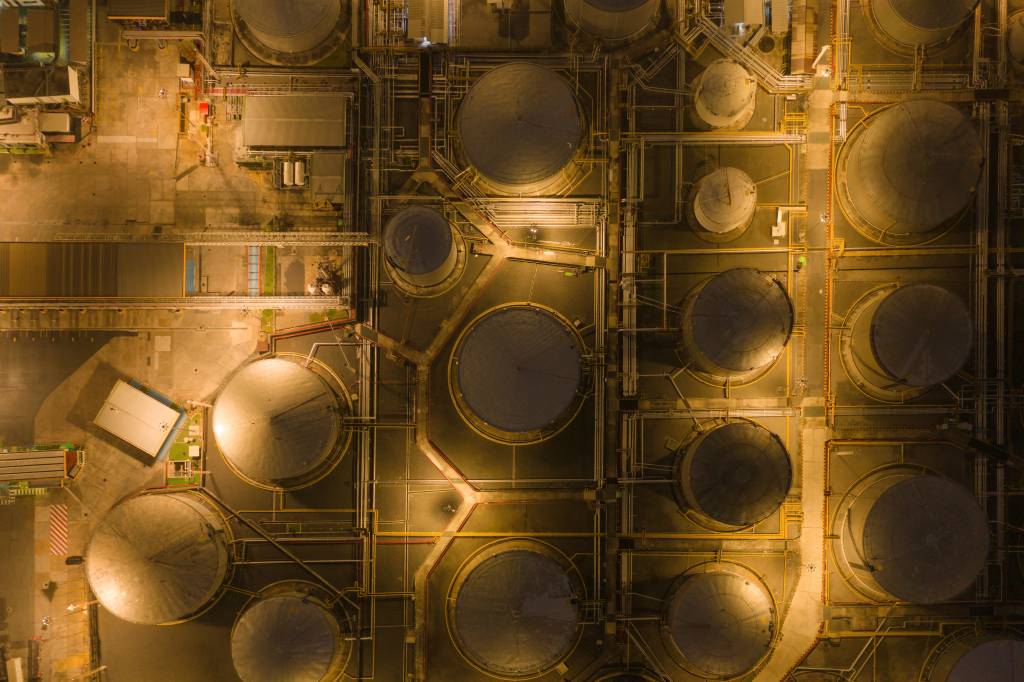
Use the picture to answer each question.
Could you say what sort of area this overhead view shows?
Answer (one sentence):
This looks like an industrial area.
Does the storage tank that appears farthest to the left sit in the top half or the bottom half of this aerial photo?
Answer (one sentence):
The bottom half of the photo is where the storage tank that appears farthest to the left is.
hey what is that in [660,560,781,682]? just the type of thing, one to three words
storage tank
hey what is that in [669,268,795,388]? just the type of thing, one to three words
storage tank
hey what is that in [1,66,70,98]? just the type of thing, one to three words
building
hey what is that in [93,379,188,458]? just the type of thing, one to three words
building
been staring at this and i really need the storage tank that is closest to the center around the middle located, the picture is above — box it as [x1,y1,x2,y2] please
[447,300,593,445]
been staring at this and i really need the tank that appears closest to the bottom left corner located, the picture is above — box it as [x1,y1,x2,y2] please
[86,484,235,629]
